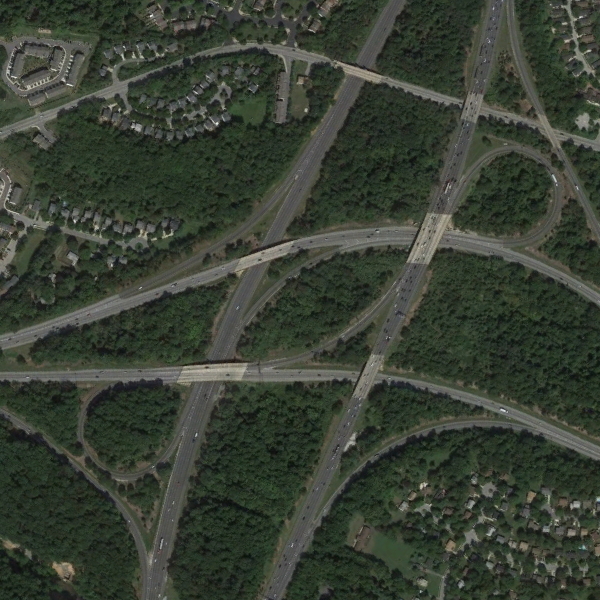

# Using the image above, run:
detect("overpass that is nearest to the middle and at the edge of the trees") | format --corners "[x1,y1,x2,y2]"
[235,238,296,273]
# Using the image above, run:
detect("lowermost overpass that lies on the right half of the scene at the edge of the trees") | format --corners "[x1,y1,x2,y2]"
[352,354,384,398]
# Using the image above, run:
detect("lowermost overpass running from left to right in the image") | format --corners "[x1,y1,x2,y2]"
[177,364,248,383]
